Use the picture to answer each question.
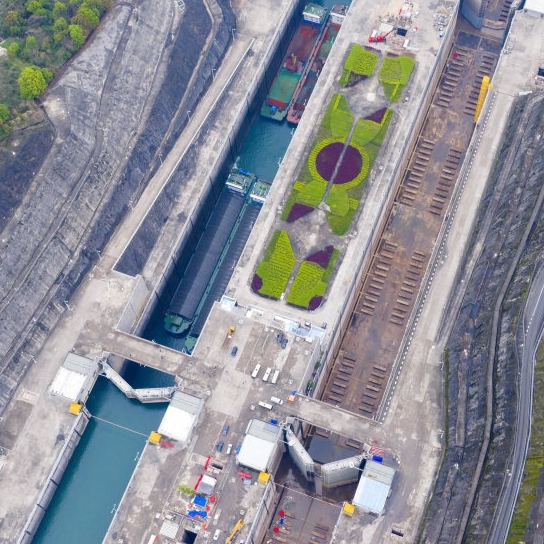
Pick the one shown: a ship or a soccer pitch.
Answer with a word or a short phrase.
ship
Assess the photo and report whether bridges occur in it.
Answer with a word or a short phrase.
Yes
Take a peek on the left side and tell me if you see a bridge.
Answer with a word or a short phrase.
Yes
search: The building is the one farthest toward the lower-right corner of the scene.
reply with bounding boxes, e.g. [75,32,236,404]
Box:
[352,459,396,516]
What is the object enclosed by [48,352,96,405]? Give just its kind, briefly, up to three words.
building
